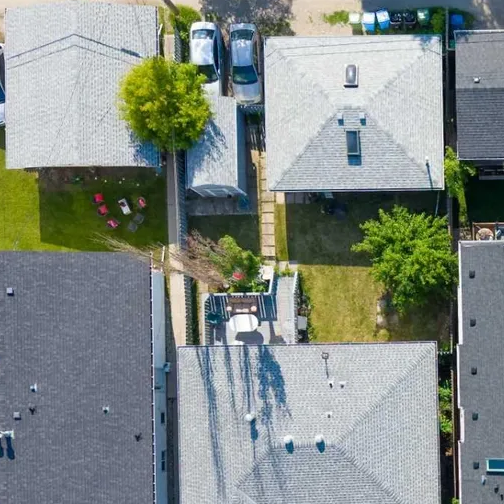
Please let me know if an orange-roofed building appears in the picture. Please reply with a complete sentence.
No, there is no orange-roofed building in the image.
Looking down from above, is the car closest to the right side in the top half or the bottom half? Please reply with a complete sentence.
The top half of the photo is where the car closest to the right side is.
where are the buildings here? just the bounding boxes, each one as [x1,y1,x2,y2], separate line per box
[178,342,441,504]
[457,239,504,504]
[454,29,504,166]
[263,33,446,194]
[4,1,169,170]
[186,95,249,193]
[0,249,175,504]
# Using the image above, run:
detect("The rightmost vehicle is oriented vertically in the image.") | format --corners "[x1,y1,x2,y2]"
[229,24,266,107]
